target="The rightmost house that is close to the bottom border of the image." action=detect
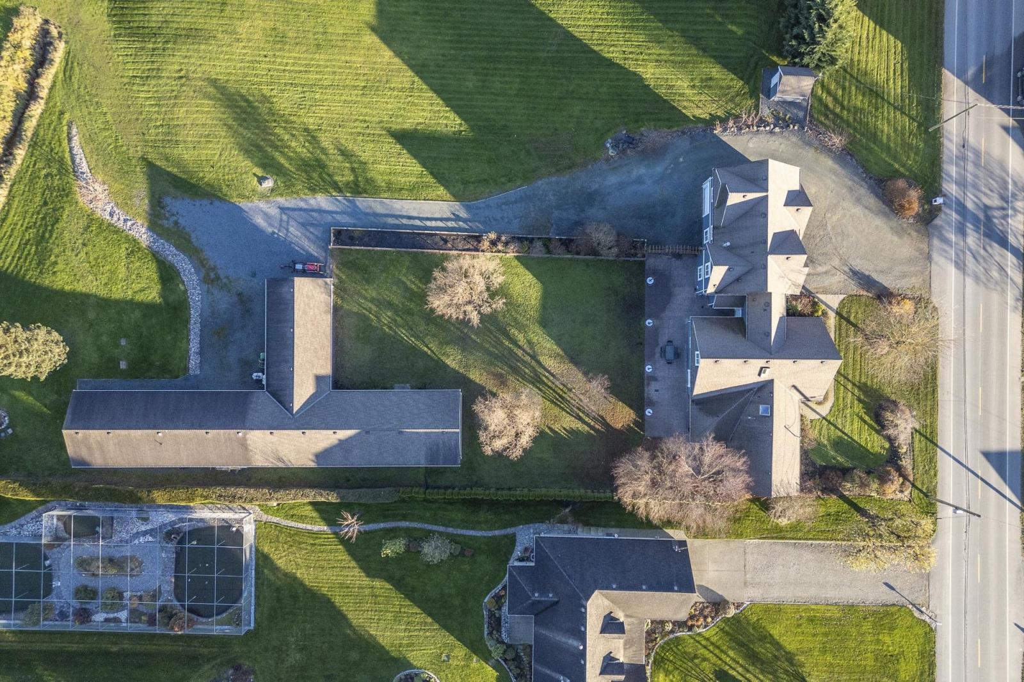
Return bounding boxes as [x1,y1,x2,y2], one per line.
[505,532,696,682]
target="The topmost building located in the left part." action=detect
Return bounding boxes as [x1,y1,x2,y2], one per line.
[62,277,461,471]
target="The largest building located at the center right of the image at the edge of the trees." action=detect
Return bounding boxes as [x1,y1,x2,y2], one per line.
[683,158,842,498]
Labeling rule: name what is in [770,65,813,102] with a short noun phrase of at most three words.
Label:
shed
